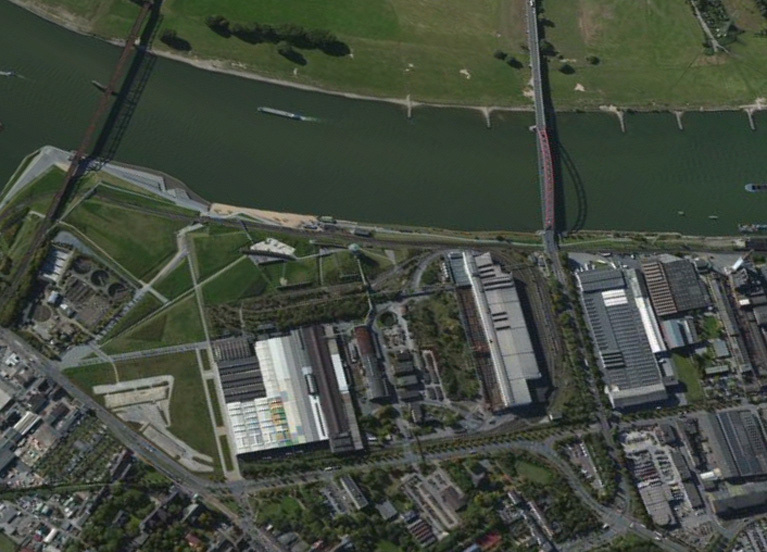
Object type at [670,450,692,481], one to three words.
shed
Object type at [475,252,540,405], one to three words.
building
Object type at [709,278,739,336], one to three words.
shed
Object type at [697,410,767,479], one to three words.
building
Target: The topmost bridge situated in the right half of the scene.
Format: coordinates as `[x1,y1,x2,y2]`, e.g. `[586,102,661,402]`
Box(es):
[529,0,556,252]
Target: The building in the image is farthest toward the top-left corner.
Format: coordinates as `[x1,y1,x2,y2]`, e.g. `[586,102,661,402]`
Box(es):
[42,249,73,282]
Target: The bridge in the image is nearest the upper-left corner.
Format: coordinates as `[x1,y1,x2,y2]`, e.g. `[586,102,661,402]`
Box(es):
[47,0,147,222]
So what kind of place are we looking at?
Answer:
port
